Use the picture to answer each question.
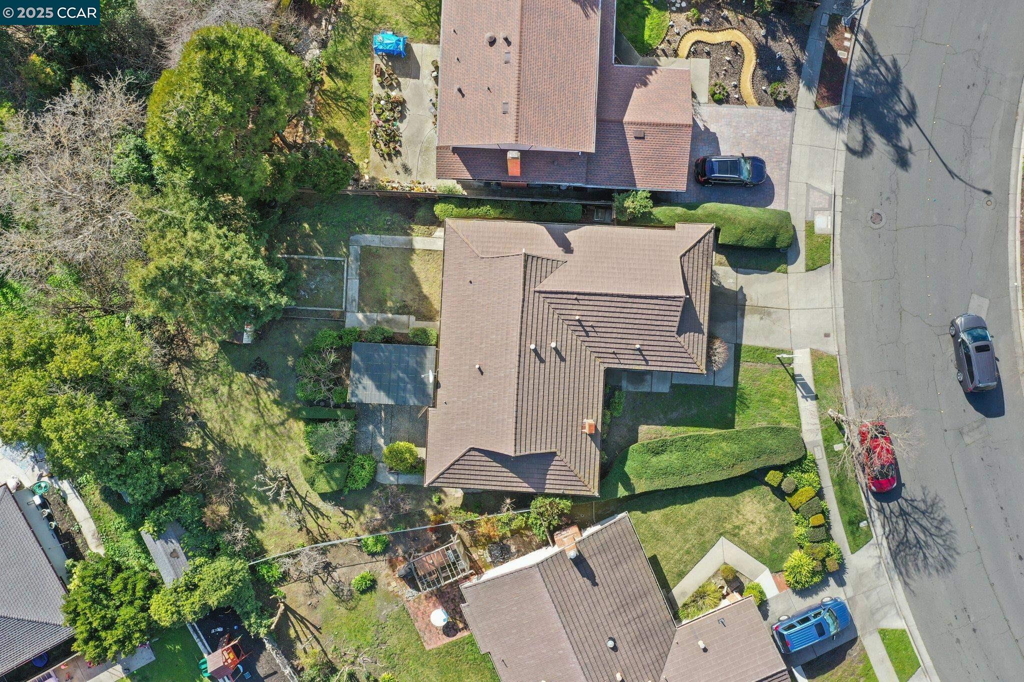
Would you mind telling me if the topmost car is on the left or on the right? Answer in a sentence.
The topmost car appears in the right half of the scene.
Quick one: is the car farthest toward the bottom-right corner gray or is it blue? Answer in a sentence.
In this view, the car farthest toward the bottom-right corner is blue.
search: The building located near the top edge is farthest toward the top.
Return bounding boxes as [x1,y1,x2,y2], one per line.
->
[436,0,695,191]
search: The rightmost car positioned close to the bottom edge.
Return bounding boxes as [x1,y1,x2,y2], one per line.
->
[771,598,855,659]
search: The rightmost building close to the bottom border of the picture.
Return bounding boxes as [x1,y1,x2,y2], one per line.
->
[458,508,797,682]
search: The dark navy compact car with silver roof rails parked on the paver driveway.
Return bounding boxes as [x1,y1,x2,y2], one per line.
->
[693,148,769,186]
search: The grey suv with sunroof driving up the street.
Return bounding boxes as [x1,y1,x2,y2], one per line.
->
[950,311,1005,392]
